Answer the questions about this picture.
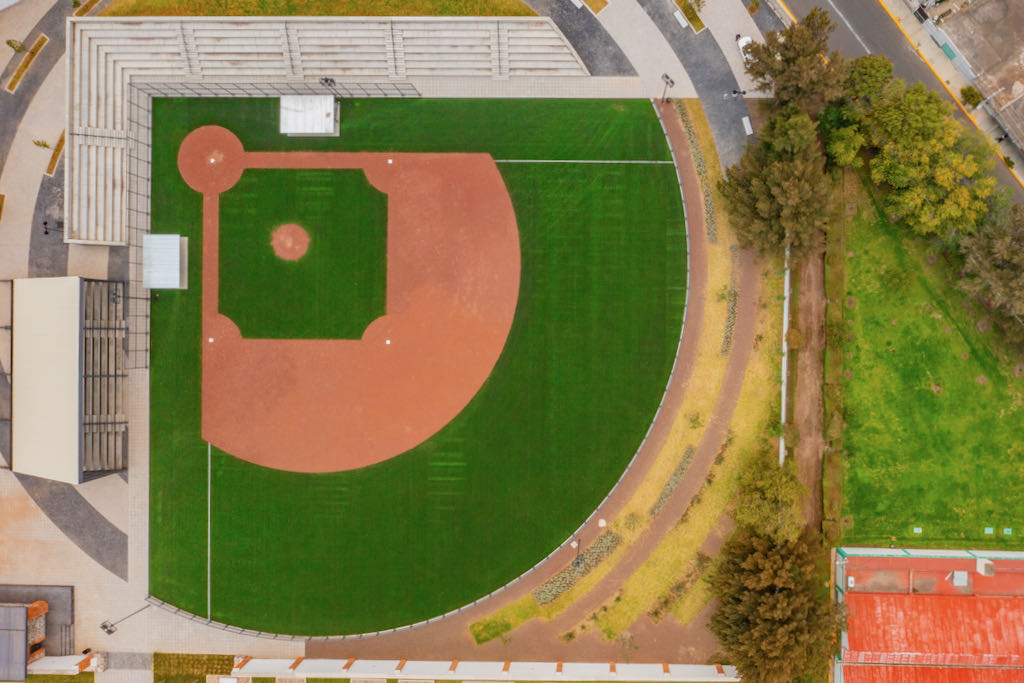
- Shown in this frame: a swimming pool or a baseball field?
baseball field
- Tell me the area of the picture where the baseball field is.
center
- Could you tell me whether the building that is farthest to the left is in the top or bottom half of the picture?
bottom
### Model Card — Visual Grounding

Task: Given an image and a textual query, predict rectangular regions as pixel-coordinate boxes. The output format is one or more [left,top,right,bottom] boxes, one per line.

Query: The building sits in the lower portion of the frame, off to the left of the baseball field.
[0,603,45,681]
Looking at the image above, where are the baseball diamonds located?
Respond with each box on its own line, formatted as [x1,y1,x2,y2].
[150,97,688,638]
